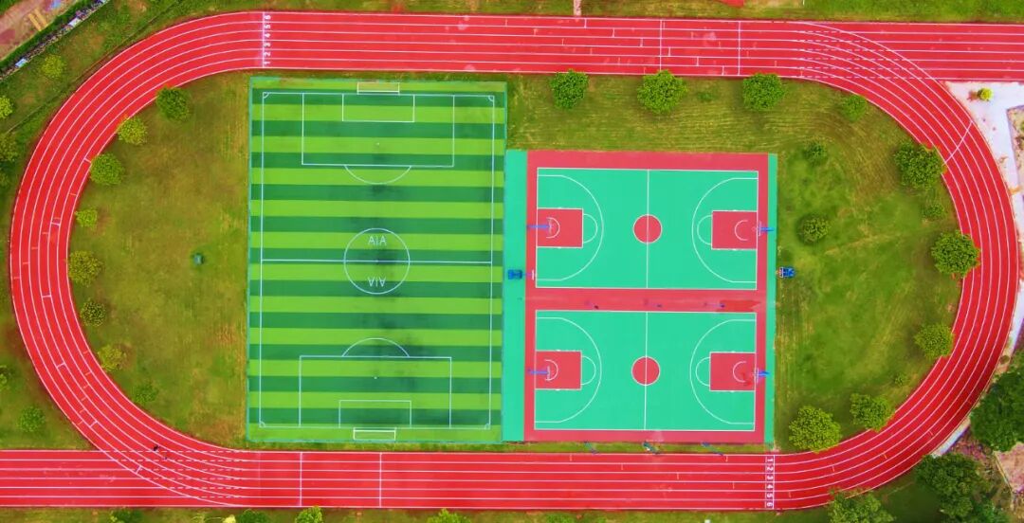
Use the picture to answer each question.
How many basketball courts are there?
2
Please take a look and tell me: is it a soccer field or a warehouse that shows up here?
soccer field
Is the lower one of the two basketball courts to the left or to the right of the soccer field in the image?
to the right of it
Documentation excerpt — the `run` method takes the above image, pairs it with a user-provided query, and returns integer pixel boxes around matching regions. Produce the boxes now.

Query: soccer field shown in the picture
[245,76,508,446]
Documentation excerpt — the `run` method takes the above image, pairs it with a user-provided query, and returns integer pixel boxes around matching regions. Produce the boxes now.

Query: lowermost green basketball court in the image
[534,310,757,431]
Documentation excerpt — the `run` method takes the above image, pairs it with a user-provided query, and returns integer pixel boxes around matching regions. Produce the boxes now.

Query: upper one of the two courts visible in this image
[536,168,758,290]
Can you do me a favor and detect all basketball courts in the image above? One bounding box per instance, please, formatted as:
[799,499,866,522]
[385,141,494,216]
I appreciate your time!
[536,168,758,290]
[534,310,757,431]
